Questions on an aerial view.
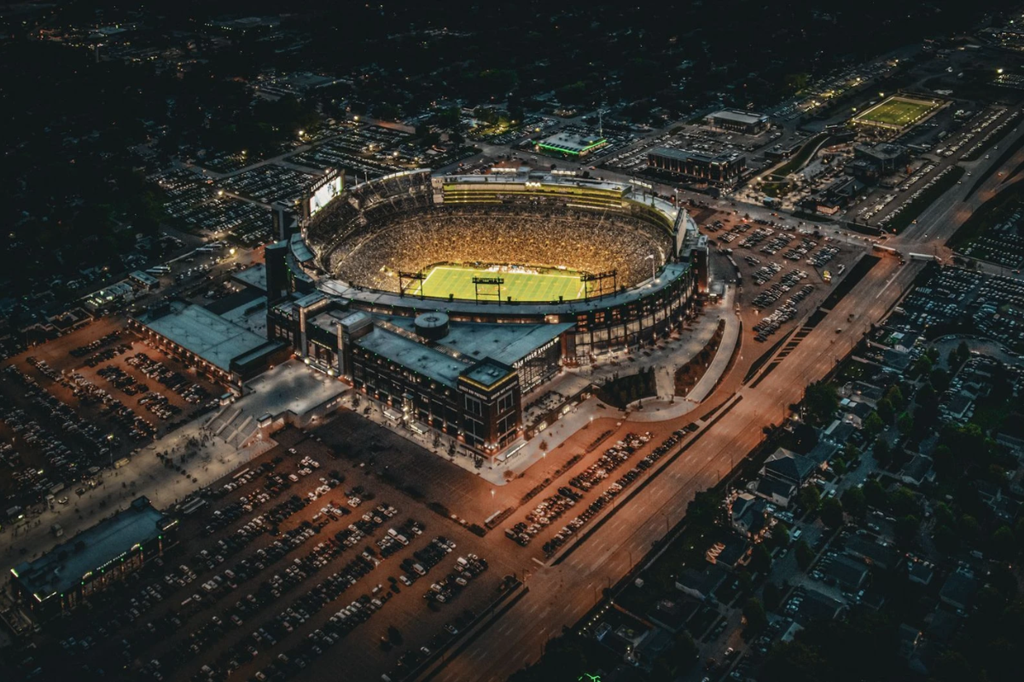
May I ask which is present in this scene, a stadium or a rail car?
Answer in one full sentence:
Visible in the photo is a stadium.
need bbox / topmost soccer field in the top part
[846,93,951,130]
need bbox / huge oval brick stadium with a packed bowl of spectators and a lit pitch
[288,161,703,358]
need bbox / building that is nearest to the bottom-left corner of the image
[17,498,177,616]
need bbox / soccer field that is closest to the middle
[409,266,592,302]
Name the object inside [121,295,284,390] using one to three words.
building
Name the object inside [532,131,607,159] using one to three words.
building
